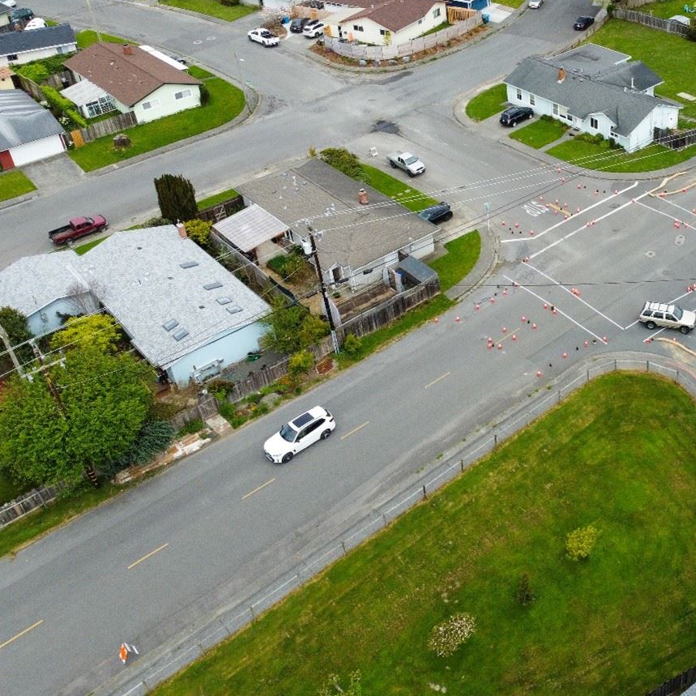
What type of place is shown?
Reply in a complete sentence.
It's a residential area.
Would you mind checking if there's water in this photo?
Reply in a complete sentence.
No, there's no water in this view.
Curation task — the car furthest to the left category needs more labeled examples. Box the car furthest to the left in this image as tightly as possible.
[9,6,37,20]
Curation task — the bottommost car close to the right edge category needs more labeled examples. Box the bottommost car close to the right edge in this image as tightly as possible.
[638,300,696,335]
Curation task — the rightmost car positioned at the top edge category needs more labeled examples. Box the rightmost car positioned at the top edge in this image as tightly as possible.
[570,11,596,27]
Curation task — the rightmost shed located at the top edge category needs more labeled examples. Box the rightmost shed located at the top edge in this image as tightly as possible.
[668,16,695,36]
